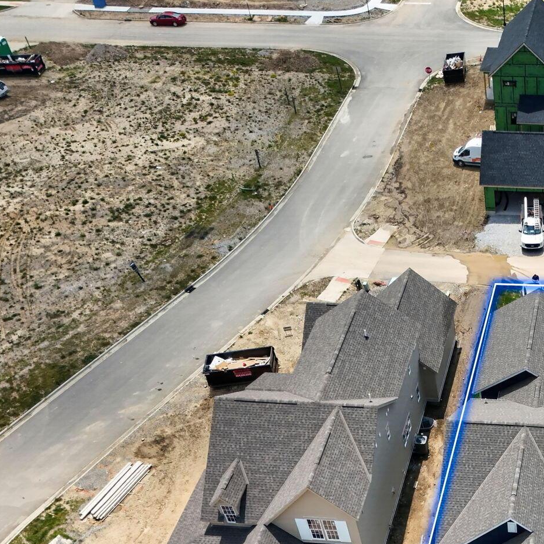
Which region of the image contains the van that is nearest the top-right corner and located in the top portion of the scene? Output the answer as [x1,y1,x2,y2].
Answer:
[451,135,482,166]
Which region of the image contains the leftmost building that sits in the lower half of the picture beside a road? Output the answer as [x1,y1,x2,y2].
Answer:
[168,267,458,544]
